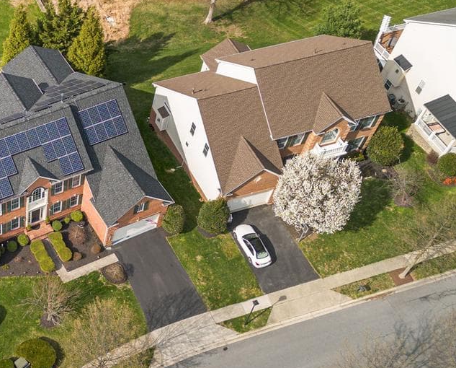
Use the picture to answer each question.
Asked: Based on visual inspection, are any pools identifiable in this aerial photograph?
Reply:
No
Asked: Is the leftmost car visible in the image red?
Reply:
No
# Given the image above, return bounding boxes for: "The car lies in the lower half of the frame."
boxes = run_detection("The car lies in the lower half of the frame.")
[233,223,275,270]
